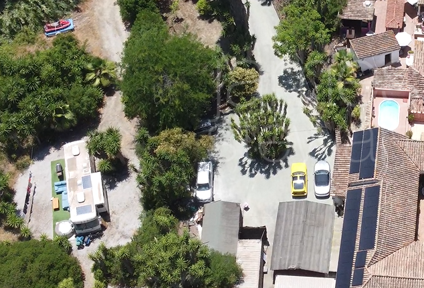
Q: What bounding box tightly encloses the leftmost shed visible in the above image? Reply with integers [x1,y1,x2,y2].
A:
[201,201,243,262]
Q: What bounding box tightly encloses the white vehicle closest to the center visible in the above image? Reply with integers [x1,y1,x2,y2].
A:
[193,164,214,204]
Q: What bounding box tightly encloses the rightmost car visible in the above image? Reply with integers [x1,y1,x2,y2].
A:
[312,164,330,198]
